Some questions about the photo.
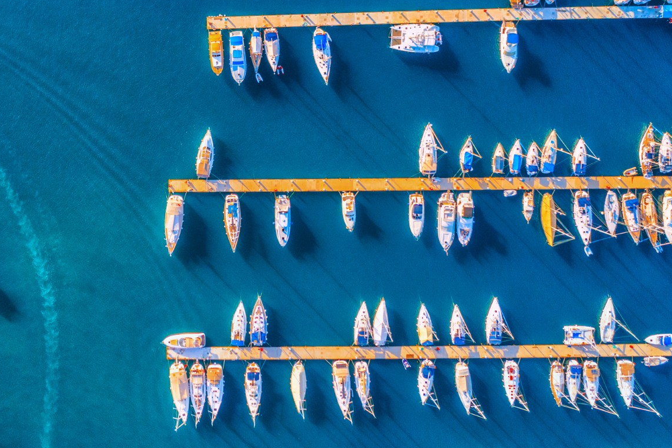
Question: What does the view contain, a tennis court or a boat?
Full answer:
It is a boat that can be seen here.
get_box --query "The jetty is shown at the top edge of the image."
[207,5,664,30]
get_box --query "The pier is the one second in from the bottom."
[169,176,672,193]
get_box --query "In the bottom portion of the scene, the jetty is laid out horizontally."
[167,343,672,359]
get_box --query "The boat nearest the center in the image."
[340,192,357,237]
